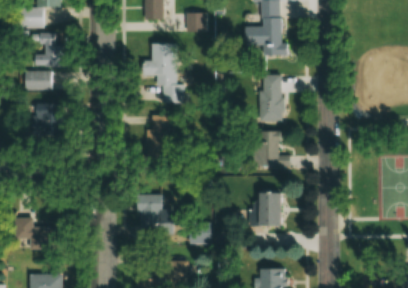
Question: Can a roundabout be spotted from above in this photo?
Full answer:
No, I find no roundabout anywhere in the image.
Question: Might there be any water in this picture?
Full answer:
No, no water is visible.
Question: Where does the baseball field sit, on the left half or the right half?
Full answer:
The baseball field sits on the right side.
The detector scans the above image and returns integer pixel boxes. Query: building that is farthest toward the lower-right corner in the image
[253,268,290,288]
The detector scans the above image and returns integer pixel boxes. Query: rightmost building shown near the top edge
[244,0,288,55]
